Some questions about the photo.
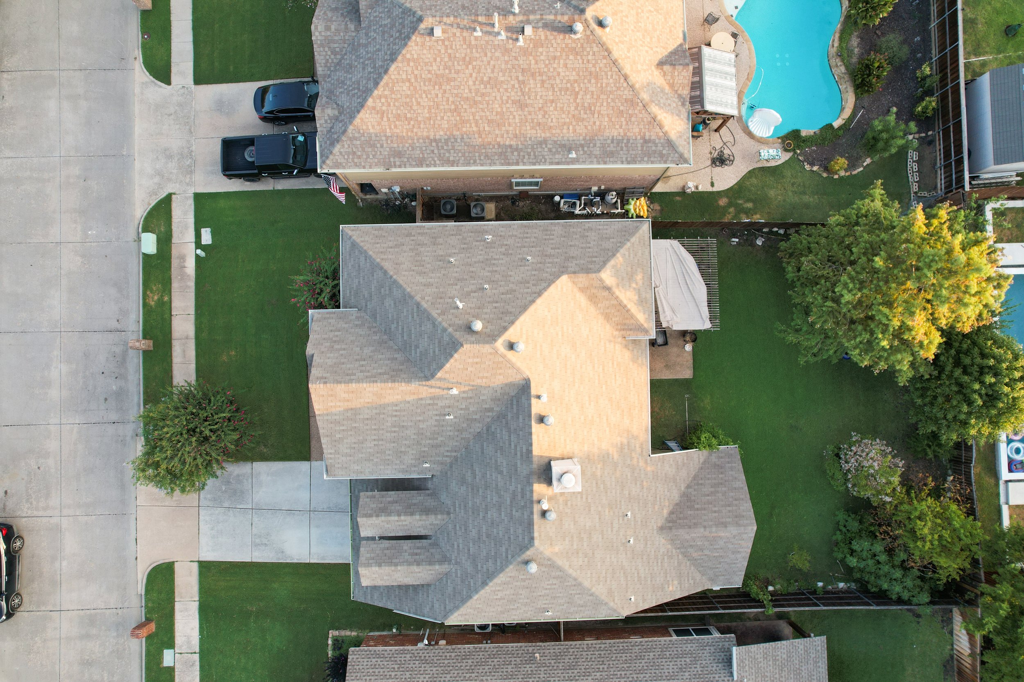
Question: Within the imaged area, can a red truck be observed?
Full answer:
No, the scene contains no red truck.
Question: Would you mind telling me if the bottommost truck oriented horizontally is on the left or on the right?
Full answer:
It is on the left.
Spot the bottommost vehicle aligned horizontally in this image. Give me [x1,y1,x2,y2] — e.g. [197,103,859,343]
[221,131,333,180]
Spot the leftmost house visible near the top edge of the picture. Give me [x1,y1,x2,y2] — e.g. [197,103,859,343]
[311,0,694,214]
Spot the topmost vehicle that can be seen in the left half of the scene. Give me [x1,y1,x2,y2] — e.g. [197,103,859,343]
[254,79,317,123]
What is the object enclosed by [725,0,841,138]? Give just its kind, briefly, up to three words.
swimming pool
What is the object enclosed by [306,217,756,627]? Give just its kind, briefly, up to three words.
house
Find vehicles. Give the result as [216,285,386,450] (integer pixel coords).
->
[221,131,333,180]
[254,79,317,123]
[0,525,24,621]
